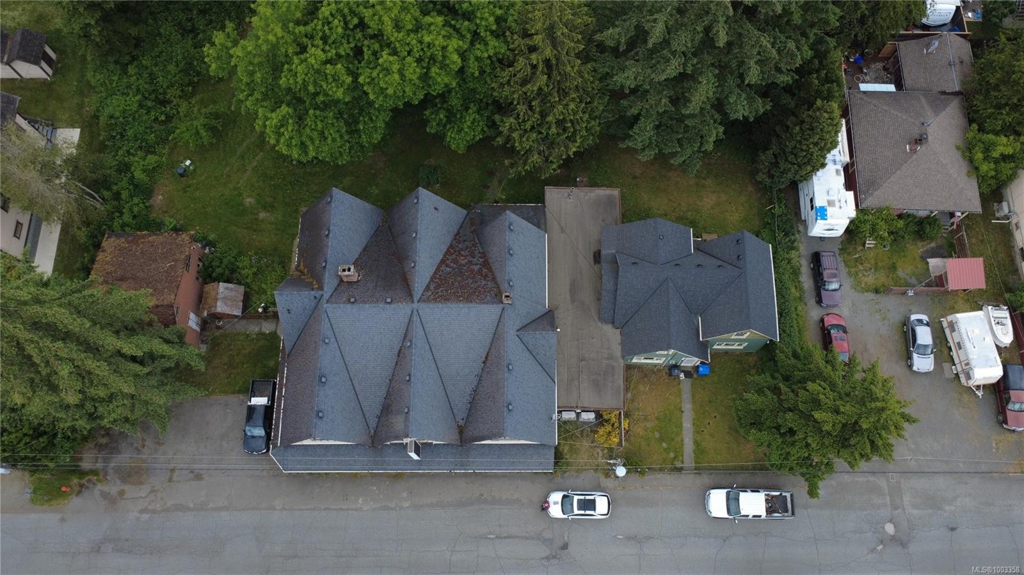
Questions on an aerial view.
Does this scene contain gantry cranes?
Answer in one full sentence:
No, this view has no gantry crane in it.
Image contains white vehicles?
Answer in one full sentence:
Yes, there is a white vehicle in the image.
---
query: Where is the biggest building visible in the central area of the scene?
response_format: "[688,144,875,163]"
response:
[269,187,561,474]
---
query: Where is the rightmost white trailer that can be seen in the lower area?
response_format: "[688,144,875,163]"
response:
[934,307,1003,402]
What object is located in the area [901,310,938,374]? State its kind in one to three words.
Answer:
car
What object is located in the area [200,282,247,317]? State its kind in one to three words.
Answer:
shed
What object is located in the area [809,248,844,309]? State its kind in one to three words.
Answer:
car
